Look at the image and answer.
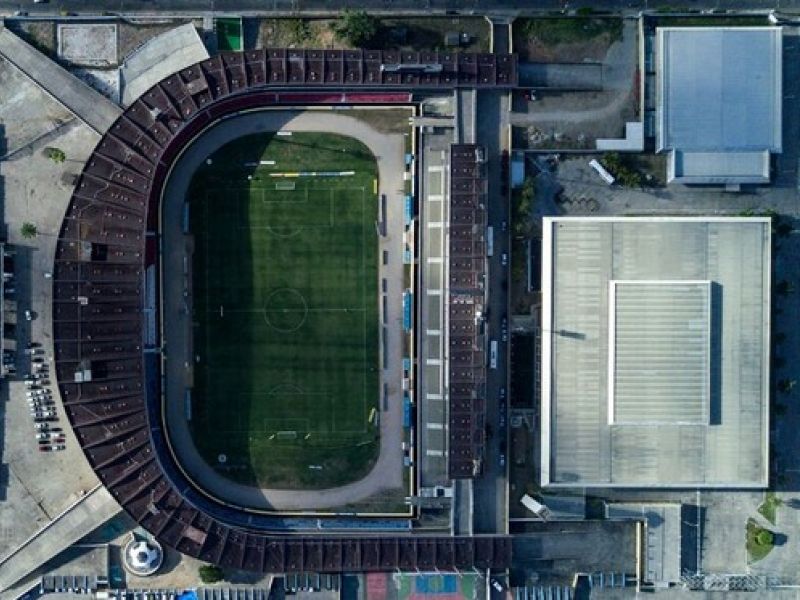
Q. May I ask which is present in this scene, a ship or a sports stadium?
sports stadium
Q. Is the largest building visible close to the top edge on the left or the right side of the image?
right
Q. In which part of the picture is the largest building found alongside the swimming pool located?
right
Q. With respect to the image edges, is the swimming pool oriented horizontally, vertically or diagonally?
vertically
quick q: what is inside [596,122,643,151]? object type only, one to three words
shed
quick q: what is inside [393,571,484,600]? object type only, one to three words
sports court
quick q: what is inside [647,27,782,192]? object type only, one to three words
building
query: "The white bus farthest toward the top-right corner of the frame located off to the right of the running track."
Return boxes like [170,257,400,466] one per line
[590,158,616,183]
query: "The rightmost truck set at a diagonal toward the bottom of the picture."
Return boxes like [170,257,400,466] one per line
[523,495,549,519]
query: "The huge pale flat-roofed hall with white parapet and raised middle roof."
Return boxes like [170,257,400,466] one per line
[541,216,772,489]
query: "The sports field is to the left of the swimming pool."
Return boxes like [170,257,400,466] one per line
[192,131,380,490]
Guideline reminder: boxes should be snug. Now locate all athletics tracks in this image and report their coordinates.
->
[163,109,405,511]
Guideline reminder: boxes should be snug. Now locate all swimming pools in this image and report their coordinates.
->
[510,330,540,411]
